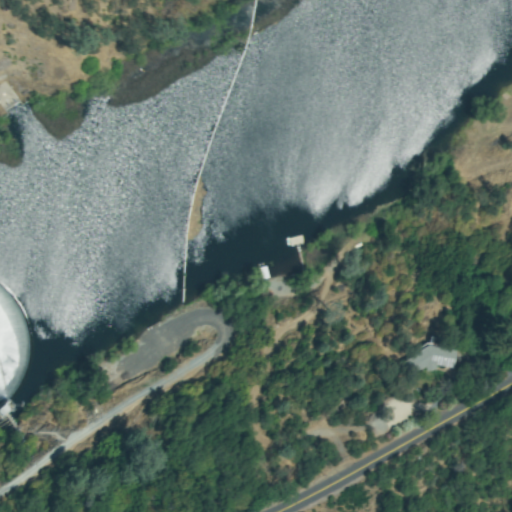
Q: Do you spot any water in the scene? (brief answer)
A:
Yes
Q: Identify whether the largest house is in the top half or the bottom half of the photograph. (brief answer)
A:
bottom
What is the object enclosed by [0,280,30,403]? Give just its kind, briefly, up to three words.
dam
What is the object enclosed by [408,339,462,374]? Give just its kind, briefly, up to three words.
house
